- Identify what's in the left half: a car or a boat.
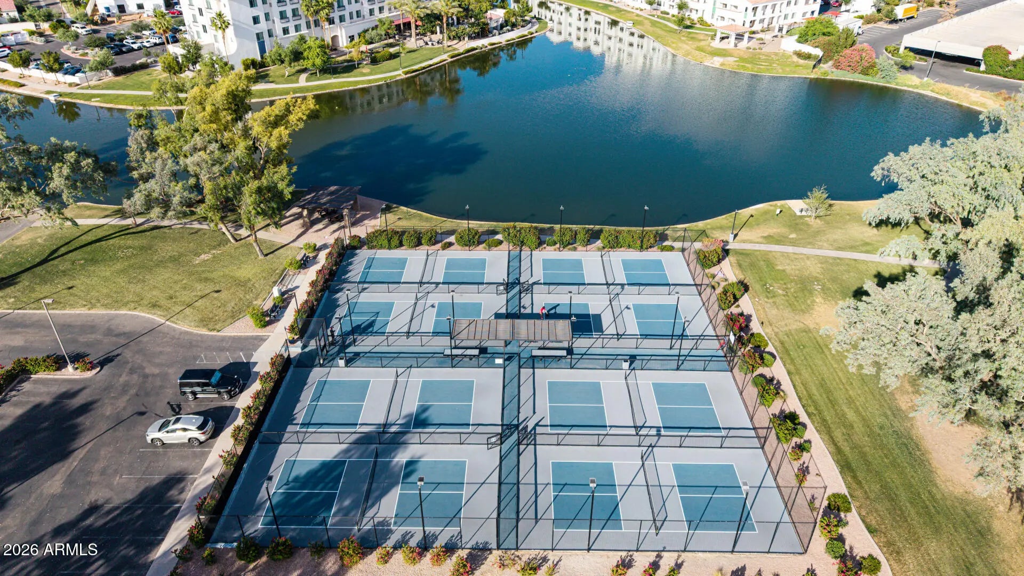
car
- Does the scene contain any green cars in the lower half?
No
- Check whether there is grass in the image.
Yes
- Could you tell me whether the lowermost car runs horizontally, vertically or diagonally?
horizontally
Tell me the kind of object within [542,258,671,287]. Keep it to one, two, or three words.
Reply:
sports court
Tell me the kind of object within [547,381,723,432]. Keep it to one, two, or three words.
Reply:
sports court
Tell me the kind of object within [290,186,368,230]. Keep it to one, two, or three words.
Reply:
building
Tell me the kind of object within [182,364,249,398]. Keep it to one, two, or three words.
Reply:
car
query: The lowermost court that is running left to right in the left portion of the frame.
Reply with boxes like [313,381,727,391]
[259,459,467,528]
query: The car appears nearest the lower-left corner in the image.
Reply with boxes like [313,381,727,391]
[145,411,219,443]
